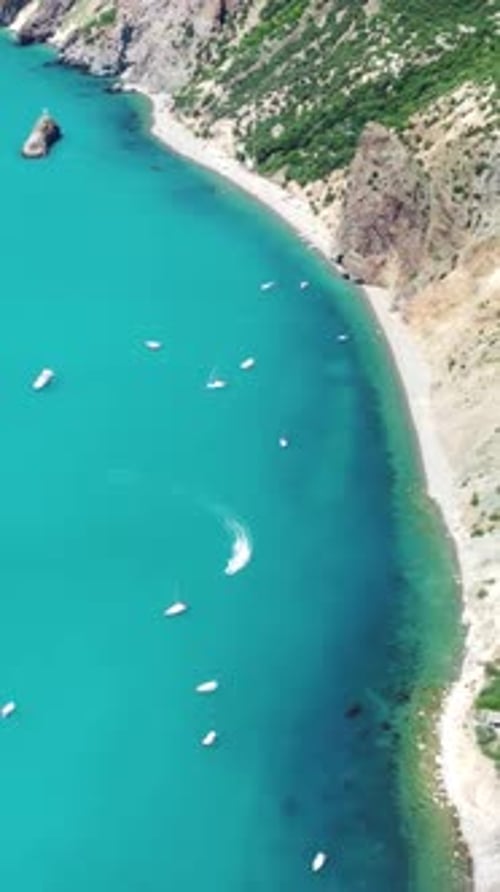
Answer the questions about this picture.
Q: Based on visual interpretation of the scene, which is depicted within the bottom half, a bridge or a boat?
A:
boat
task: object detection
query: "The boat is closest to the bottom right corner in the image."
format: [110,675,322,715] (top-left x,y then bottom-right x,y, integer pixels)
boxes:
[310,850,326,871]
